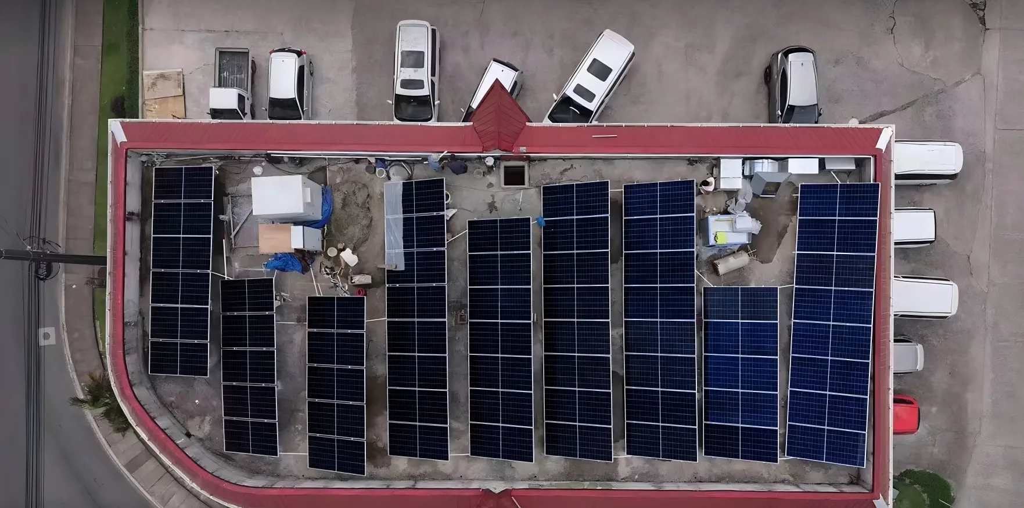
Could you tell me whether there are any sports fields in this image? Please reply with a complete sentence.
No, no sports field is visible in the view.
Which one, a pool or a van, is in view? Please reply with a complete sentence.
There is a van in the scene.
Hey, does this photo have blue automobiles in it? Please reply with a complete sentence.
No, the scene contains no blue automobile.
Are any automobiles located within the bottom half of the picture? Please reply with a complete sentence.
Yes, an automobile appears within the bottom half of the picture.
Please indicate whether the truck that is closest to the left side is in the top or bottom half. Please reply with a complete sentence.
The truck that is closest to the left side is in the top half of the image.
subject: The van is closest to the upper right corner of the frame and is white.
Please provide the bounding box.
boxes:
[898,141,961,188]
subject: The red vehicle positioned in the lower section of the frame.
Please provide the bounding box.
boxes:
[896,390,919,433]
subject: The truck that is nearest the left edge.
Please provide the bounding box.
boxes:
[207,47,258,118]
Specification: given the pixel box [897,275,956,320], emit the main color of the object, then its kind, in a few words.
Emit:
white van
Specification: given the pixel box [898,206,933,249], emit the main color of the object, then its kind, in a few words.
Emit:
white car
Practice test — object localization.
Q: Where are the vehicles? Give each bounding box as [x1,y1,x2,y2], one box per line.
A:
[267,47,316,118]
[898,206,933,249]
[457,60,524,120]
[897,333,923,374]
[207,47,258,118]
[763,48,817,123]
[898,141,961,188]
[389,22,441,120]
[547,32,632,121]
[897,275,956,320]
[896,390,919,433]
